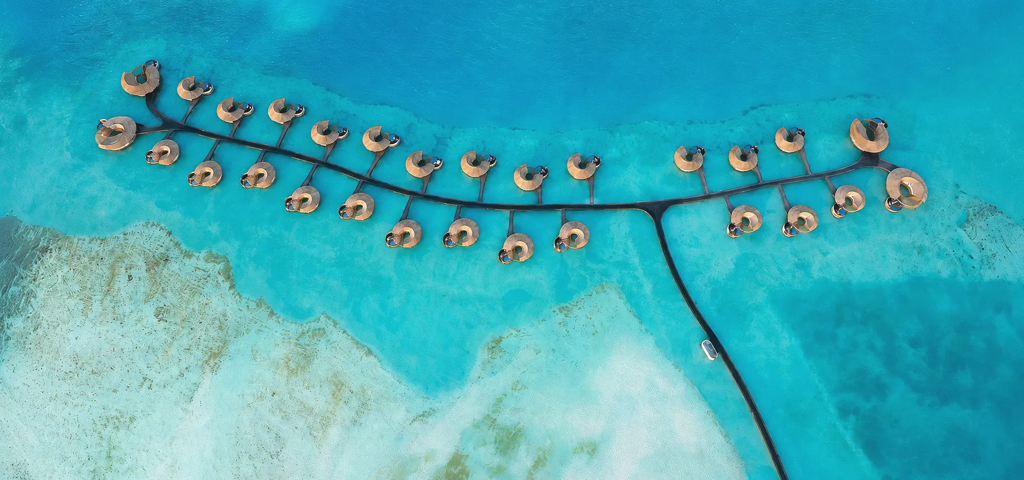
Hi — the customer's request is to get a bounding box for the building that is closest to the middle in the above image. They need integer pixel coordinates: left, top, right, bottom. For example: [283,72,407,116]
[497,234,534,264]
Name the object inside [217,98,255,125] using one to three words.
house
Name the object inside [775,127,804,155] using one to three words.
house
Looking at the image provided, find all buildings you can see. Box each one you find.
[338,194,376,221]
[443,219,480,247]
[830,187,866,218]
[384,220,423,248]
[514,164,548,192]
[186,162,224,189]
[567,153,601,181]
[406,151,443,178]
[554,221,590,252]
[782,206,818,237]
[461,150,497,179]
[119,58,161,94]
[362,126,399,153]
[884,170,929,212]
[311,120,348,148]
[144,141,181,167]
[240,163,277,190]
[497,234,534,264]
[93,116,138,151]
[283,186,321,214]
[728,144,758,174]
[176,76,214,103]
[728,206,762,238]
[673,146,704,173]
[268,99,305,125]
[775,127,804,155]
[848,118,890,152]
[217,98,255,125]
